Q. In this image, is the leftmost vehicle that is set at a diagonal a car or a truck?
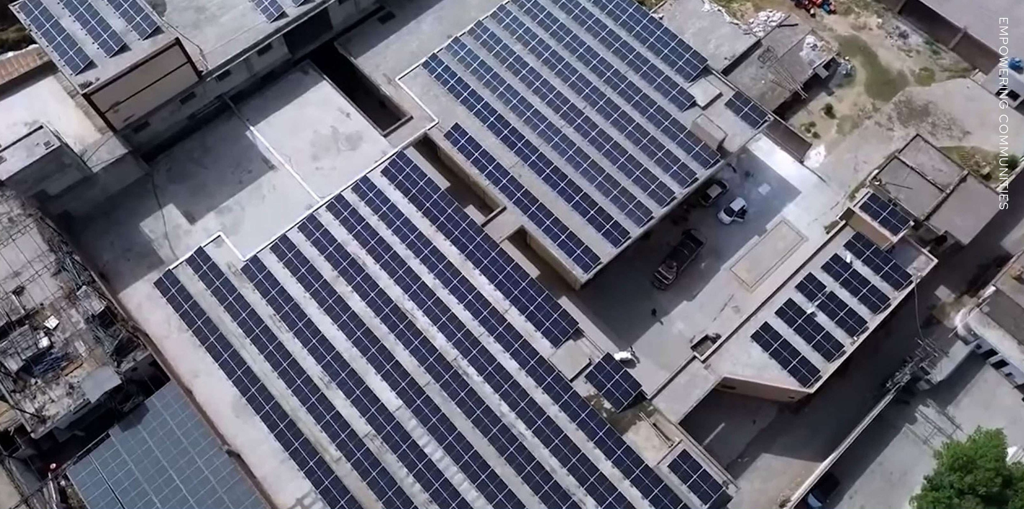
truck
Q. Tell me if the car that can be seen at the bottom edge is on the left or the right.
right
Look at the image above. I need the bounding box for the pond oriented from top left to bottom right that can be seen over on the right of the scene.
[840,35,906,97]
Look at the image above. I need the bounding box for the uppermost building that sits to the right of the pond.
[900,0,1024,78]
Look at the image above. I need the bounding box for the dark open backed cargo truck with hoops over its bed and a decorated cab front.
[644,226,710,297]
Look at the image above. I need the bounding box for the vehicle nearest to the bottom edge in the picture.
[802,473,843,509]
